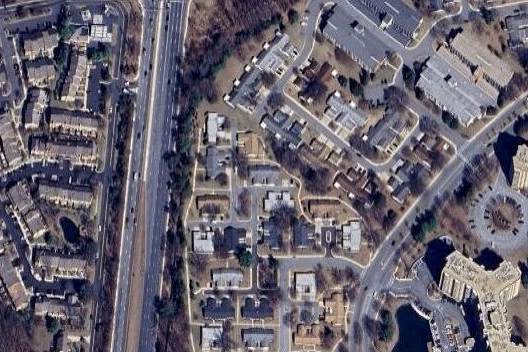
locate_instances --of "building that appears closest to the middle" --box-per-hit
[248,169,280,187]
